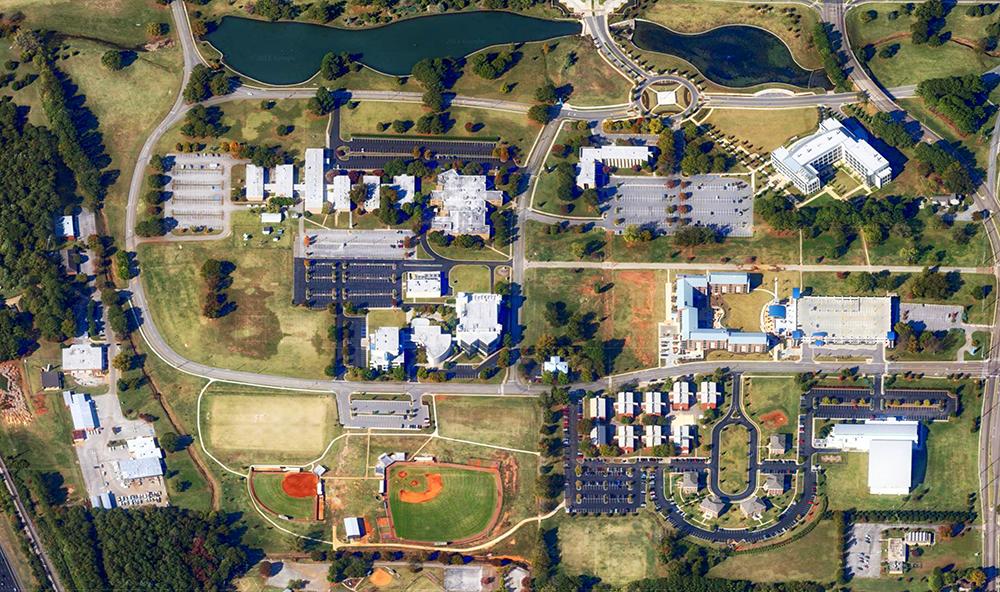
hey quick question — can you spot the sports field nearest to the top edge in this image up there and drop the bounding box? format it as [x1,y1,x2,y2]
[209,393,330,451]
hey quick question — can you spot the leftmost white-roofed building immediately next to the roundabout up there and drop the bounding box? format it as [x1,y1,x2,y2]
[577,147,653,189]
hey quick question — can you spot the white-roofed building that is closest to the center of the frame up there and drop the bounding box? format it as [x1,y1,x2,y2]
[457,292,502,354]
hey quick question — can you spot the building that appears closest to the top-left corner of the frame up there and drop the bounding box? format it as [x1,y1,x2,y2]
[57,216,74,238]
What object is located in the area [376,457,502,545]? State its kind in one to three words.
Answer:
baseball field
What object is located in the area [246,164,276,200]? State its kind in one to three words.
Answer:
building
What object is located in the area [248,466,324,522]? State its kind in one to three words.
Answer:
baseball field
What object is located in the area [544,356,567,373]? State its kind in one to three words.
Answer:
house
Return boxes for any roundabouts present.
[634,74,699,120]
